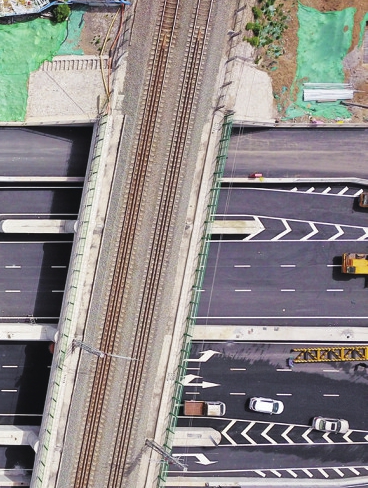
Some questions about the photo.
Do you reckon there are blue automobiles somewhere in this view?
No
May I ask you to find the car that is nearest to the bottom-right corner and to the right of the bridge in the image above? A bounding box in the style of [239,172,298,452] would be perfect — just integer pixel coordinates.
[310,415,349,433]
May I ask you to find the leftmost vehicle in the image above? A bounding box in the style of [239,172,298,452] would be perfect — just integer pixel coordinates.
[184,400,226,419]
